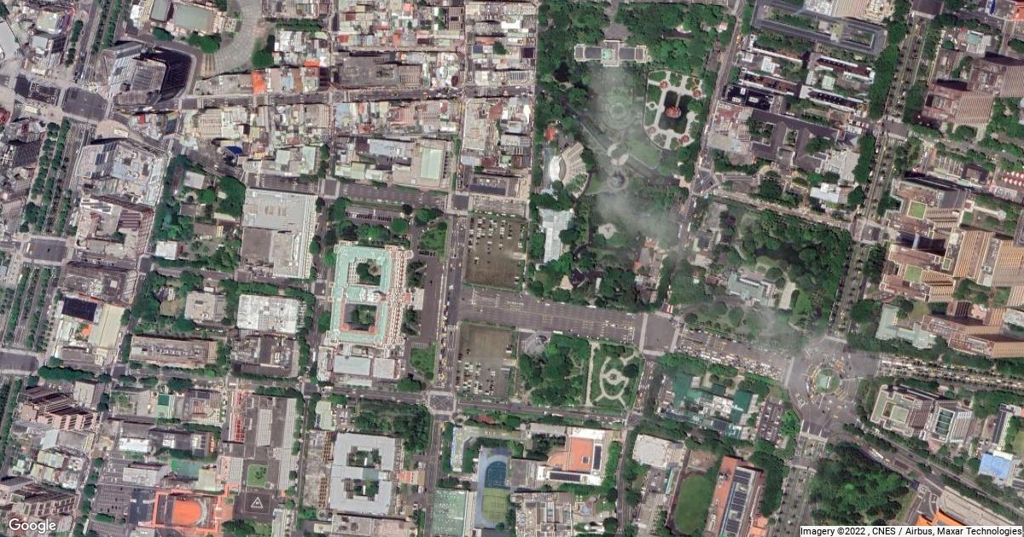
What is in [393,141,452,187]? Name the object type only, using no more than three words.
building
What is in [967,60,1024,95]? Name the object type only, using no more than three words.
building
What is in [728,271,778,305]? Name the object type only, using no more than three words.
house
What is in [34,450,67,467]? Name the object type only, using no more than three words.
house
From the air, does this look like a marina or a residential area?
residential area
